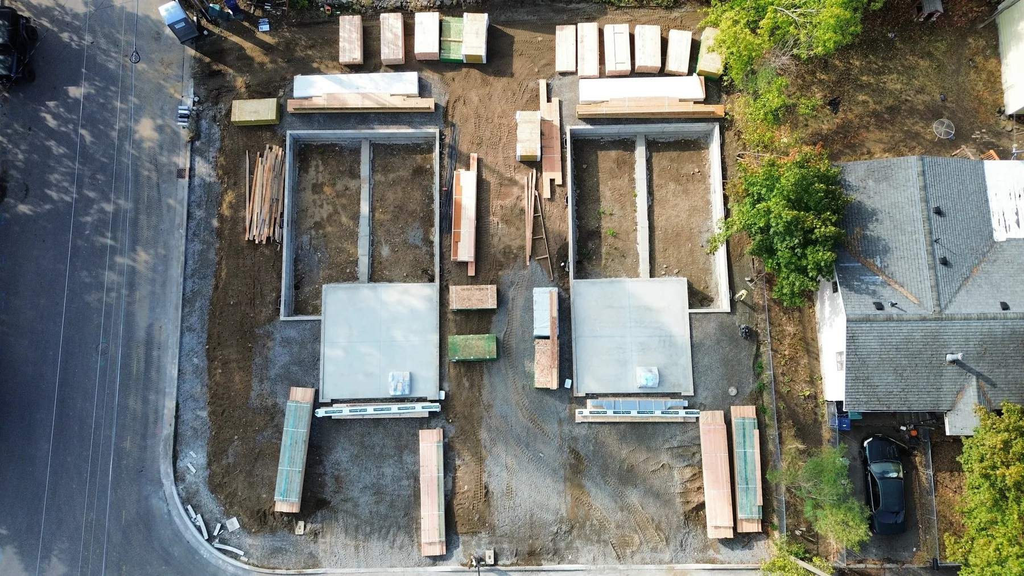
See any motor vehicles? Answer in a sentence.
Yes, you can see a motor vehicle in this photo.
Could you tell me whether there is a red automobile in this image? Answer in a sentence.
No, no red automobile is visible in the view.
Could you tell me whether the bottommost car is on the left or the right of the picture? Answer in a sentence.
The bottommost car is on the right side of the image.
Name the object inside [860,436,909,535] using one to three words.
car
